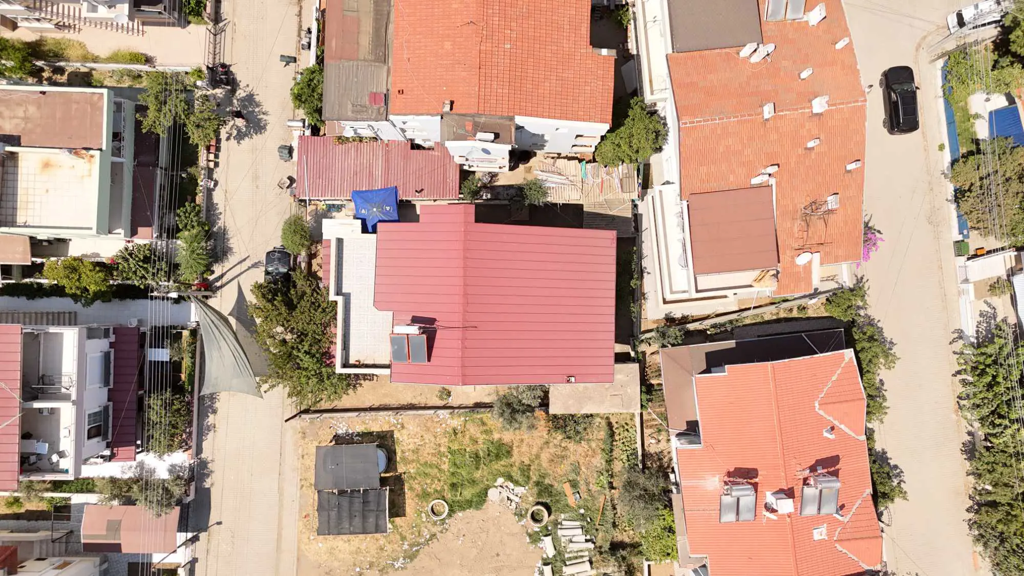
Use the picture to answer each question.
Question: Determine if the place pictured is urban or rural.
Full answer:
The area is urban.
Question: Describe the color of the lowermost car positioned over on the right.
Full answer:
The lowermost car positioned over on the right looks black in the image.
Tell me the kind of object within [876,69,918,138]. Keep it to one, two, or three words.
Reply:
car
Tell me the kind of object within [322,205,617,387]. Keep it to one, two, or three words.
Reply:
house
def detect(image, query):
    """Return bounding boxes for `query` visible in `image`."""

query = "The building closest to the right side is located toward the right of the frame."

[948,250,1017,284]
